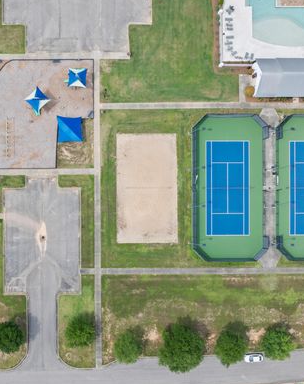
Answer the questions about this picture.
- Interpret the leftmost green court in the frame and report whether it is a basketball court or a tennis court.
tennis court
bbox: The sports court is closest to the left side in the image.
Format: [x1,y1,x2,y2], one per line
[116,133,178,244]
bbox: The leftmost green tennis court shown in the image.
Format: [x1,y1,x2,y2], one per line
[195,114,264,261]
